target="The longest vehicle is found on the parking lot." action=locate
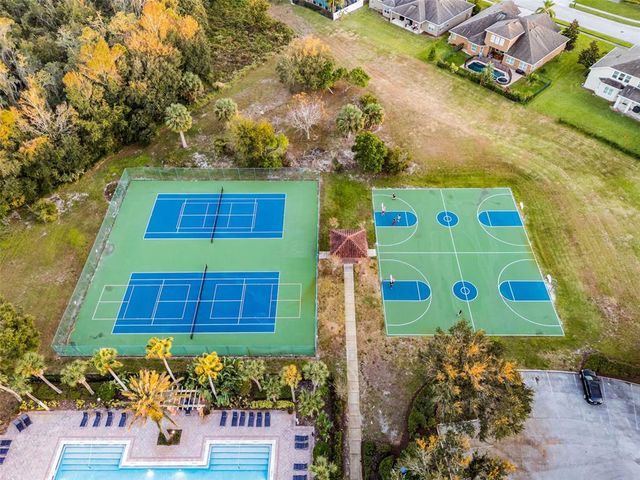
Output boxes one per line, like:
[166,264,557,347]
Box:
[581,367,609,402]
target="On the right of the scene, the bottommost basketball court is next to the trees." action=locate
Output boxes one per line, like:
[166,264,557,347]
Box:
[378,252,565,336]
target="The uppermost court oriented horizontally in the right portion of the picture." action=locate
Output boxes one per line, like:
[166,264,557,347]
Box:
[372,188,534,252]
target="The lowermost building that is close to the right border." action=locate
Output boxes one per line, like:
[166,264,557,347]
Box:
[583,44,640,121]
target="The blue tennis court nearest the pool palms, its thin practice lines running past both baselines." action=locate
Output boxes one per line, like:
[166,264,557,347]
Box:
[62,254,318,356]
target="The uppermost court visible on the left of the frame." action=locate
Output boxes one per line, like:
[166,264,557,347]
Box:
[101,179,318,254]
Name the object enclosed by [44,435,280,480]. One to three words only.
swimming pool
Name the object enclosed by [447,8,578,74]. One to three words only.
house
